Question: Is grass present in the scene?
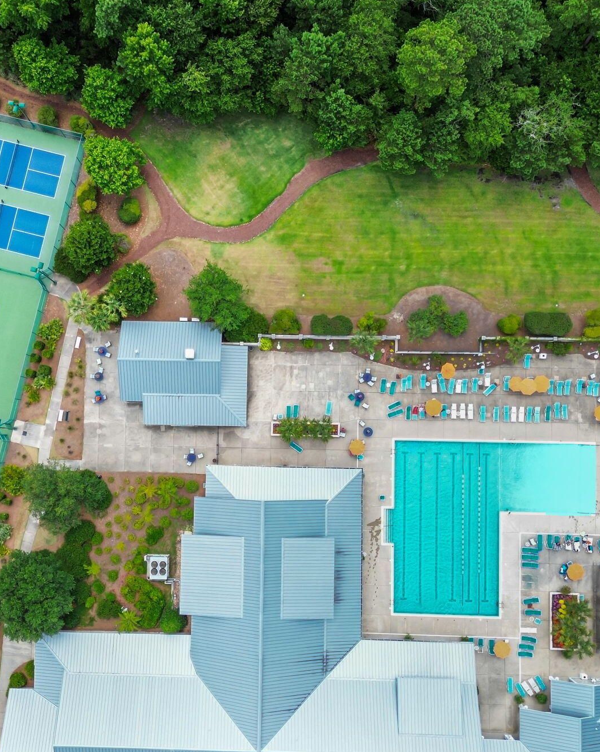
Yes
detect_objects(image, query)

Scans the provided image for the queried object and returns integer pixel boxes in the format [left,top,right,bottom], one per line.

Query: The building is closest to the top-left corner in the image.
[117,321,248,426]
